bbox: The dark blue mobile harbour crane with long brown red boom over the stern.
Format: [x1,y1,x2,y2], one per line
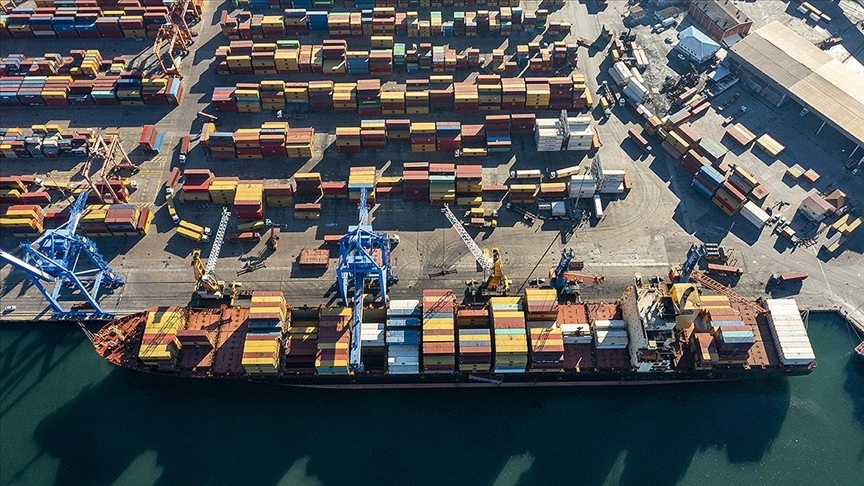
[646,237,778,321]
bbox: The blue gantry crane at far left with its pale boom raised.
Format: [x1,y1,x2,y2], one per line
[0,187,121,313]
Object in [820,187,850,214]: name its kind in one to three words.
house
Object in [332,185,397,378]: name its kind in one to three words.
container crane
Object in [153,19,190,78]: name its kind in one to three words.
container crane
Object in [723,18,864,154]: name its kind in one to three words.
warehouse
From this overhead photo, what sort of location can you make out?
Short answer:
port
